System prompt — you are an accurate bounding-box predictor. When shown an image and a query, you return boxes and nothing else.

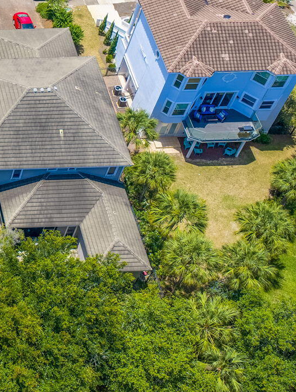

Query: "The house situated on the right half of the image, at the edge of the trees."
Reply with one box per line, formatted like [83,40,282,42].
[74,0,296,162]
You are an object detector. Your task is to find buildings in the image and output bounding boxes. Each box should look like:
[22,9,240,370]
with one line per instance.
[74,0,296,162]
[0,26,153,295]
